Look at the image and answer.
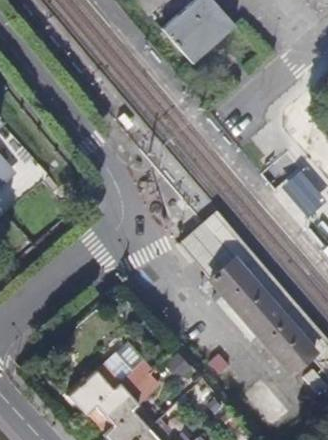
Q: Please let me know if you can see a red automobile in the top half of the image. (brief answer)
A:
No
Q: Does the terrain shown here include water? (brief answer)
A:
No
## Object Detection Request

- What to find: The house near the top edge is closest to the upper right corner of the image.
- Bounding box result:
[162,0,236,65]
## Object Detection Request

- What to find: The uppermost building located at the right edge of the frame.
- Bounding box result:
[284,170,326,217]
